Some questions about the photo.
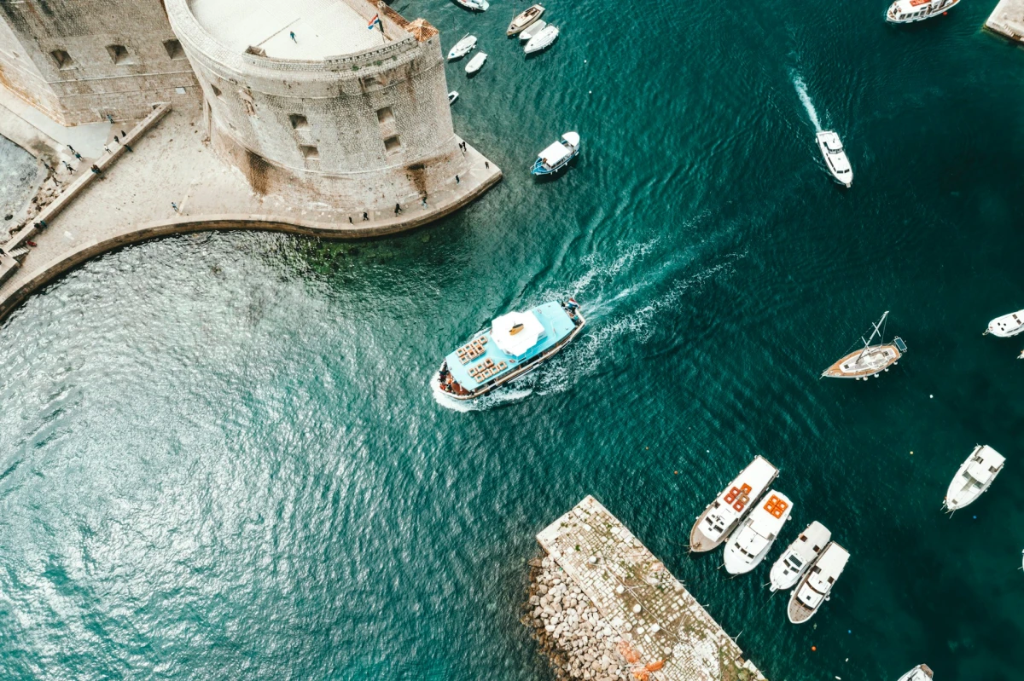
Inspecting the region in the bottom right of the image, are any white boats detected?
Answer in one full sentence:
Yes, a white boat can be seen in the bottom right of the image.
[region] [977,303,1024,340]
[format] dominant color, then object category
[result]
white boat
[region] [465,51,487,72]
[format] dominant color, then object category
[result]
white boat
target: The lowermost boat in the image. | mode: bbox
[893,658,934,681]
